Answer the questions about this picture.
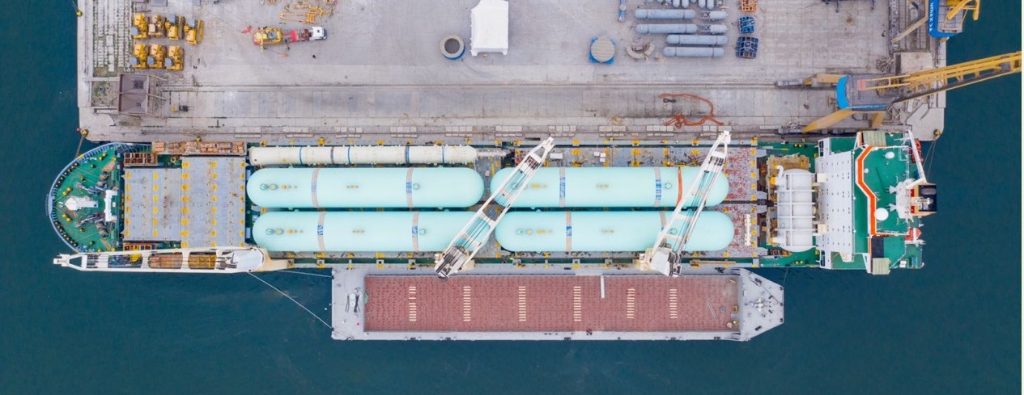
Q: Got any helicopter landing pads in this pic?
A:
No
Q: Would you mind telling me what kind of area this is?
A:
industrial area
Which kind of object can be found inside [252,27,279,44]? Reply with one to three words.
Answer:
work vehicle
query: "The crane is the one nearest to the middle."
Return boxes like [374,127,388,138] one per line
[433,137,554,288]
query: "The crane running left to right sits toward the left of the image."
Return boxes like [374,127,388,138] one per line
[53,244,292,275]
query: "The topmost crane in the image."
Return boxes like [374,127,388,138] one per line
[890,0,980,50]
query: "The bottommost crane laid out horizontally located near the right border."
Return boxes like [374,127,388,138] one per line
[781,51,1024,135]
